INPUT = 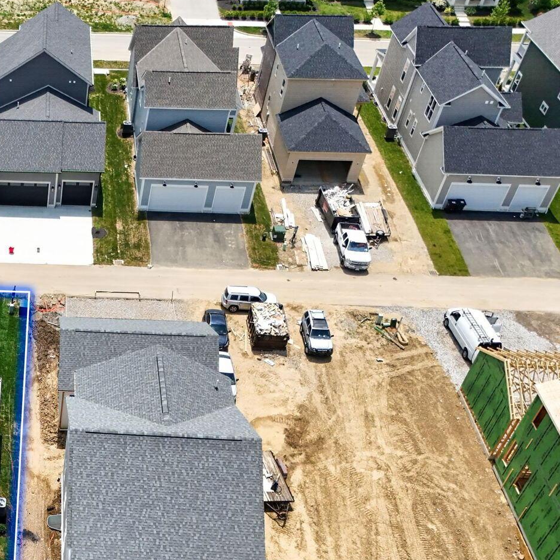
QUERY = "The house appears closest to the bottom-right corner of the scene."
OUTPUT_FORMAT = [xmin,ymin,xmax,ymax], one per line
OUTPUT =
[458,352,560,560]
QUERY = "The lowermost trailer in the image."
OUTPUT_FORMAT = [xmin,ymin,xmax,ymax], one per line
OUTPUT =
[262,450,297,519]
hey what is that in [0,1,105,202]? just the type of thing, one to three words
house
